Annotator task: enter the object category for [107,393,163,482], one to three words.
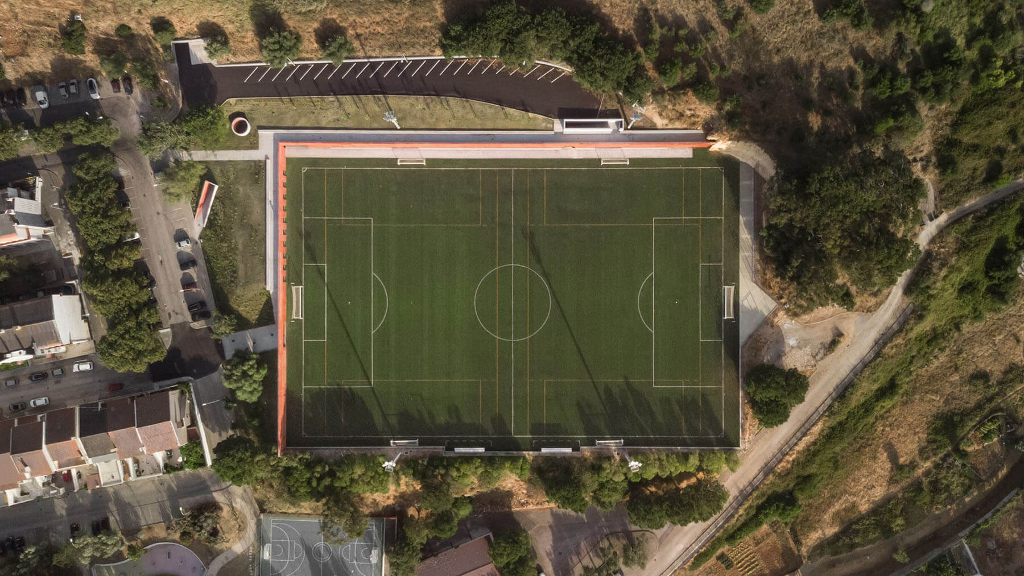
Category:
house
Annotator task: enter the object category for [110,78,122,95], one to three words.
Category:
vehicle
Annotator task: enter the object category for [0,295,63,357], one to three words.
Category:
house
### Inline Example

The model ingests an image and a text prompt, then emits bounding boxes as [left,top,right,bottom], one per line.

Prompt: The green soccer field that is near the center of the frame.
[284,147,740,452]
